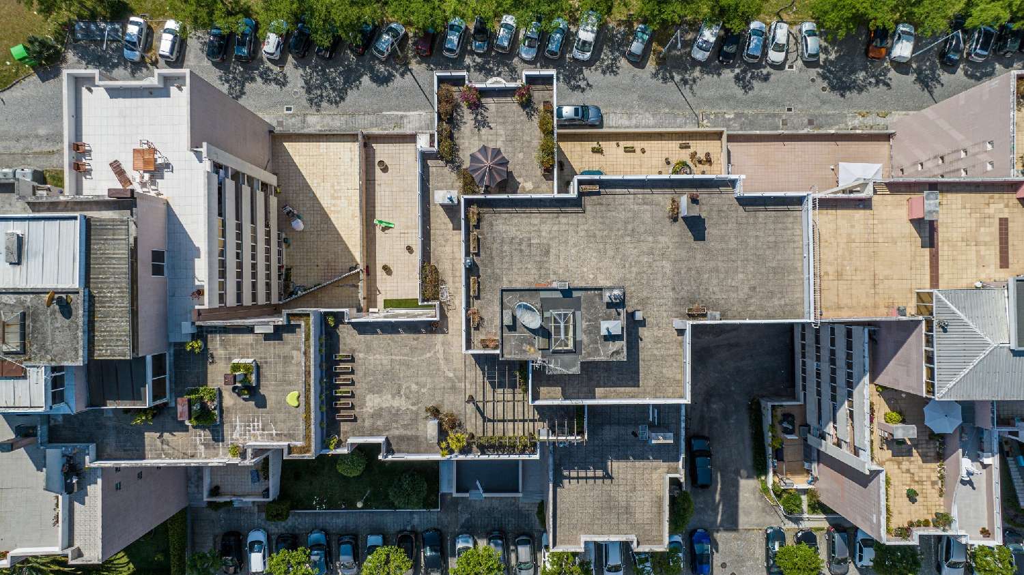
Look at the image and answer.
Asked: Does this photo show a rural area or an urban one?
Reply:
urban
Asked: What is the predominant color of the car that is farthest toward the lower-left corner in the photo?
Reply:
black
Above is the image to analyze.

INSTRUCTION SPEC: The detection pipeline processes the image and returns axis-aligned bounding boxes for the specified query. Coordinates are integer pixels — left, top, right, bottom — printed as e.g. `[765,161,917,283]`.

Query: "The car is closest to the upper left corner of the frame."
[121,16,151,64]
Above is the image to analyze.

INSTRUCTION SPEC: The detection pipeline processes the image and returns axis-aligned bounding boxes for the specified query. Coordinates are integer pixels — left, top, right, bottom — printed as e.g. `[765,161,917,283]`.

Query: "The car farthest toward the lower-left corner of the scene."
[219,528,244,575]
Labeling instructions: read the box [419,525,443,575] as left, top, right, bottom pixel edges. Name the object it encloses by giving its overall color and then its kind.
black car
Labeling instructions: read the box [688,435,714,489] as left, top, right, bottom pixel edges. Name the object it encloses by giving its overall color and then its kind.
black car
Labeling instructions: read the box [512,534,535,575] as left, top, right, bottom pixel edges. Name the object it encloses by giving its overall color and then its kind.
gray car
